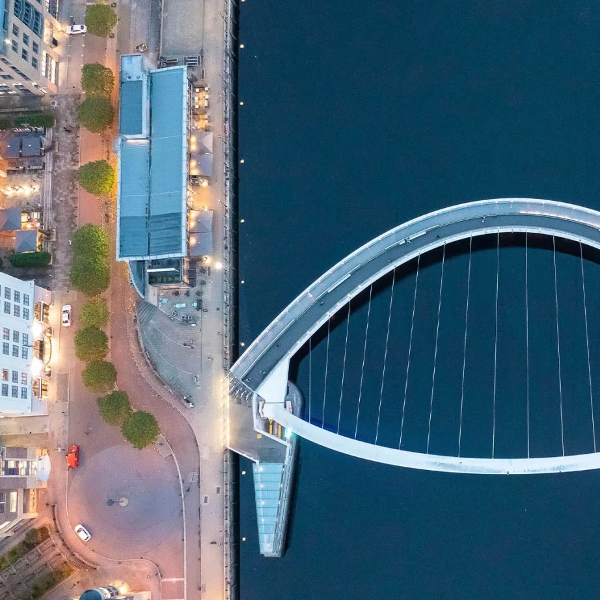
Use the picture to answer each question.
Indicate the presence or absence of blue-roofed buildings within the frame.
Yes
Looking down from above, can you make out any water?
Yes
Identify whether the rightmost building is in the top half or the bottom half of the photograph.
bottom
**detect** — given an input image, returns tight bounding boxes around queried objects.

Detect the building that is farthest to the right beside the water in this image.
[253,463,287,559]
